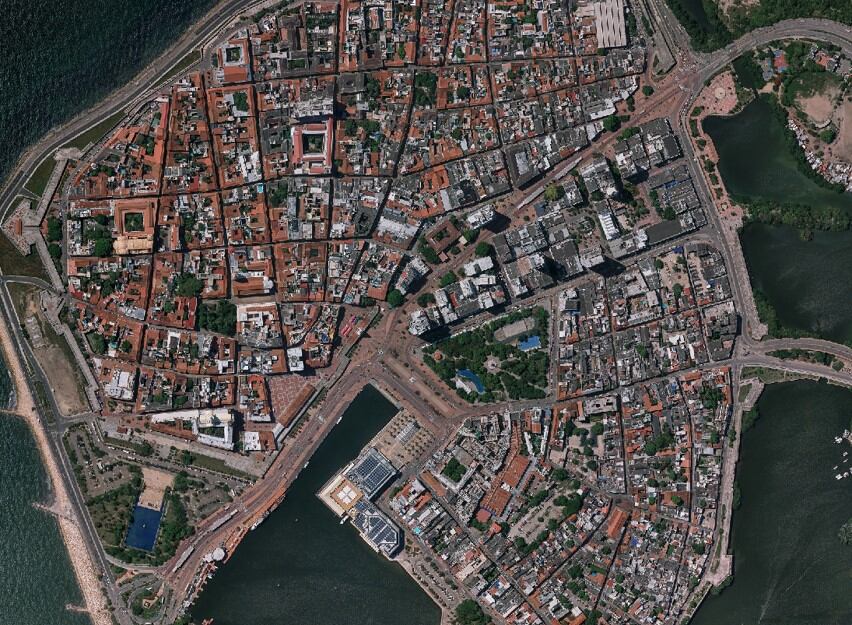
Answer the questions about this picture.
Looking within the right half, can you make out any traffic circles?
No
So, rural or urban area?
urban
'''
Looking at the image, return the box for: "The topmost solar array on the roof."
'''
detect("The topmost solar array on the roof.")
[355,456,391,489]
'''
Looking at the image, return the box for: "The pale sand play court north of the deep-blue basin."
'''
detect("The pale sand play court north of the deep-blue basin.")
[138,470,172,510]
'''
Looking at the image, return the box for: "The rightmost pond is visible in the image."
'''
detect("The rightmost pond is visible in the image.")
[685,0,852,393]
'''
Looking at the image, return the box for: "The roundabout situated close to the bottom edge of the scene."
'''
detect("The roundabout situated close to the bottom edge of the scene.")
[132,583,162,620]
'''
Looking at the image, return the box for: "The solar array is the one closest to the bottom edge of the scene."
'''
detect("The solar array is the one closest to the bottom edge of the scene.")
[355,507,395,543]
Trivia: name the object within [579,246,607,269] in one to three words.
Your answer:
building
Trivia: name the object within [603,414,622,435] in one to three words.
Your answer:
house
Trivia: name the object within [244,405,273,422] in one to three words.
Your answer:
house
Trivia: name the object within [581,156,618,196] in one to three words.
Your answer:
building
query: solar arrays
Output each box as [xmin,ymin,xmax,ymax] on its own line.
[355,507,395,543]
[355,456,391,489]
